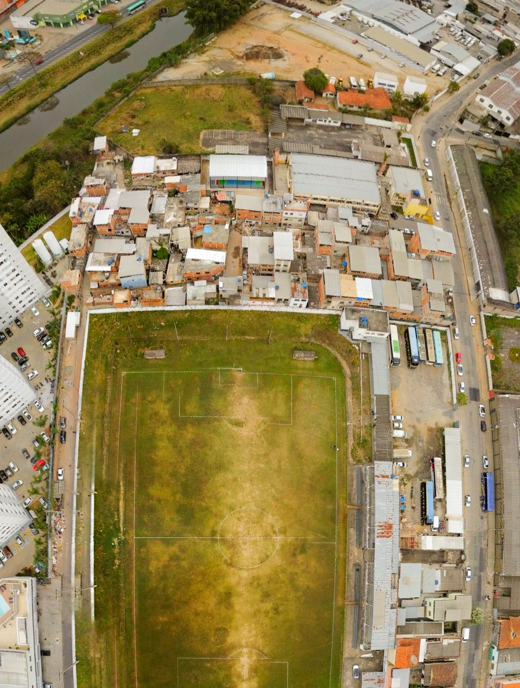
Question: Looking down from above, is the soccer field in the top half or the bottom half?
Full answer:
It is in the bottom half that the soccer field appears.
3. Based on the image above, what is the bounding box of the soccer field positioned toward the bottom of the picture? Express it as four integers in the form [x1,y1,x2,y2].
[111,366,347,688]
